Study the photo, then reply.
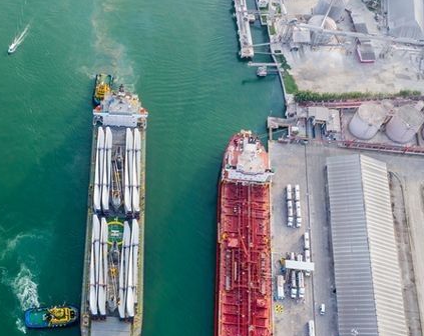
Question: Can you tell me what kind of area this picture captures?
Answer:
industrial area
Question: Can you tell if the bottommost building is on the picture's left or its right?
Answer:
right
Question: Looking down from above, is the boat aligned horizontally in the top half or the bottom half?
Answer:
bottom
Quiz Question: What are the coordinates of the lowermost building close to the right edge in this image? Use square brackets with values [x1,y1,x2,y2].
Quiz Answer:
[323,157,408,336]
